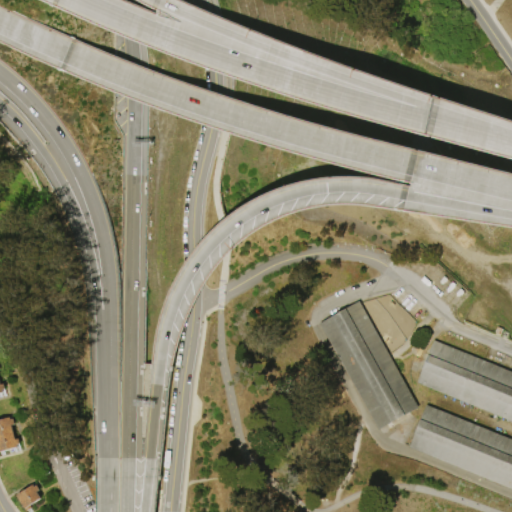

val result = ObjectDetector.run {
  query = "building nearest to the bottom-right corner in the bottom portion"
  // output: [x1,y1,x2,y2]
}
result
[412,404,512,484]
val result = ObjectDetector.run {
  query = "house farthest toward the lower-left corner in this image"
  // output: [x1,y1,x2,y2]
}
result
[17,484,42,508]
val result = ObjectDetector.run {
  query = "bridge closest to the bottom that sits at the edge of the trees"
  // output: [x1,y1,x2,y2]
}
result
[96,458,162,512]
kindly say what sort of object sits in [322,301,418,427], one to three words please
building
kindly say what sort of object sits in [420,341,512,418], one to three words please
building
